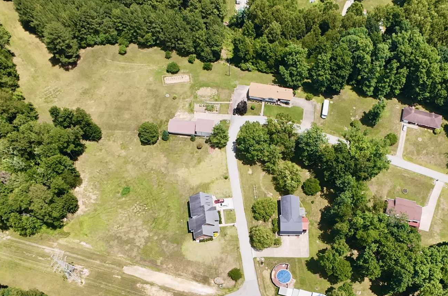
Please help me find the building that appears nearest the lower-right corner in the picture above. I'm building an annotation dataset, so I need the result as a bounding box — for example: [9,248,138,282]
[384,198,423,228]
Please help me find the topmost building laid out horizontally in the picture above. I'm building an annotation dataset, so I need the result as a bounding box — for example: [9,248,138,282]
[249,83,293,103]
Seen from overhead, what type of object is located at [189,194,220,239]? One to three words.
house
